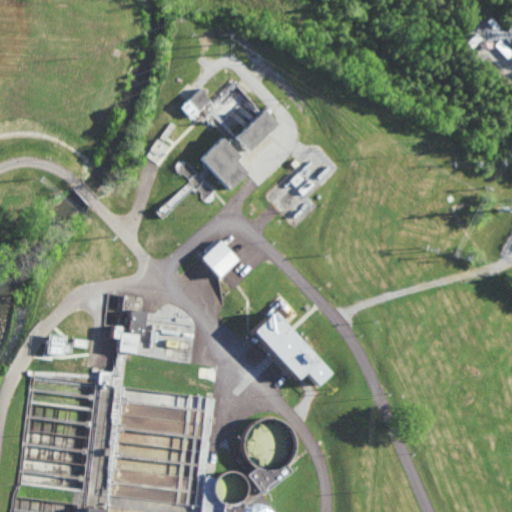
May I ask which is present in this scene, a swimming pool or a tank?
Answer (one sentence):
Of the two, only a tank appears.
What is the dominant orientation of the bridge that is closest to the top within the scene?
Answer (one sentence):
The bridge that is closest to the top runs on a diagonal in the image.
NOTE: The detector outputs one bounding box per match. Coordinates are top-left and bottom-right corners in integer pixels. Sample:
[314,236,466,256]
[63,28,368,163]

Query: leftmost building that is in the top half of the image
[182,89,210,122]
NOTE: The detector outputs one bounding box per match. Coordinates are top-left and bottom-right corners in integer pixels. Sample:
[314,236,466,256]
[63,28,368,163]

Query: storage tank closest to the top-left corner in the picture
[157,162,226,220]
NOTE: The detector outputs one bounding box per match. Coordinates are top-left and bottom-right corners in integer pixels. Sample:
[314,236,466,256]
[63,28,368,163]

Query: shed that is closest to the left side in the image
[46,334,74,356]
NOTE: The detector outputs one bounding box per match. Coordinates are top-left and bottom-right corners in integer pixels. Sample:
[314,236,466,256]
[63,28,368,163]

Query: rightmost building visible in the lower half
[256,311,334,386]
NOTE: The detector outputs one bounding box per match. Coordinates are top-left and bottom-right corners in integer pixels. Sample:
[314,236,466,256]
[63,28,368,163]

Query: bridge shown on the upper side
[65,176,105,216]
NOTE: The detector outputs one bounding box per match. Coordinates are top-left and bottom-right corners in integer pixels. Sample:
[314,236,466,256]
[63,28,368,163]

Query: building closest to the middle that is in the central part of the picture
[203,240,240,280]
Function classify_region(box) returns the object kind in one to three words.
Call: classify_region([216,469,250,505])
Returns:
storage tank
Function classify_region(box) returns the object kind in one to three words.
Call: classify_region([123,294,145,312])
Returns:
building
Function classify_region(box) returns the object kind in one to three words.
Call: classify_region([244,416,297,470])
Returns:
storage tank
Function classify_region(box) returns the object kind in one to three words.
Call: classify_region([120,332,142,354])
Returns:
building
